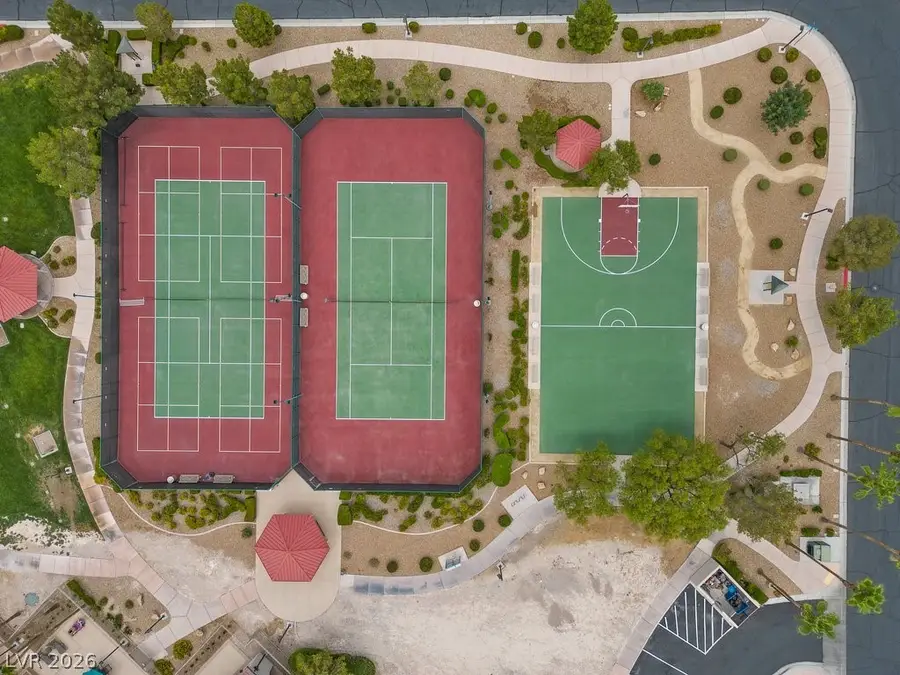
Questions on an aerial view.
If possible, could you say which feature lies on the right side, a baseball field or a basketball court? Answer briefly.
basketball court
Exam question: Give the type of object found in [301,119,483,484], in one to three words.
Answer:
tennis court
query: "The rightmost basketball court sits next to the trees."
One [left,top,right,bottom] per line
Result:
[529,187,709,461]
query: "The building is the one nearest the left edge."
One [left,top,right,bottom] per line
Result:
[0,245,51,323]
